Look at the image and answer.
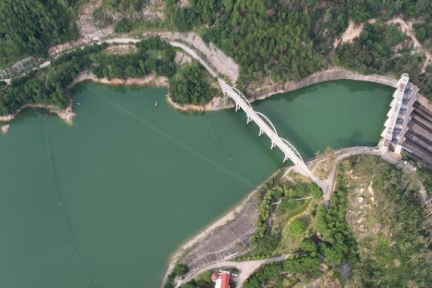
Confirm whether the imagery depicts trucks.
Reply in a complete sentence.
No, no truck is visible in the view.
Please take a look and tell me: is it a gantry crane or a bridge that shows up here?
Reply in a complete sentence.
This aerial view contains a bridge.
